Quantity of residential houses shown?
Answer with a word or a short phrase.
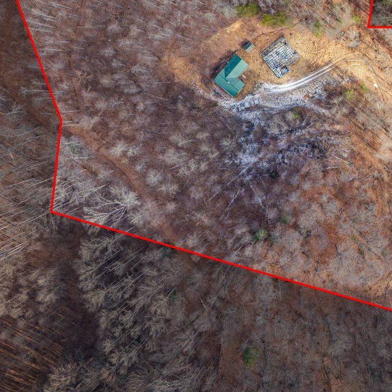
2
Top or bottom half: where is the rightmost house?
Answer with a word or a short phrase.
top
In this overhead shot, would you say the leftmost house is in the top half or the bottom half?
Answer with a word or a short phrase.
top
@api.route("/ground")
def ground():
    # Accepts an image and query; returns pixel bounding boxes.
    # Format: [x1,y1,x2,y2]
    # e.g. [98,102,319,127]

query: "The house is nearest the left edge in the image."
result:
[211,55,249,100]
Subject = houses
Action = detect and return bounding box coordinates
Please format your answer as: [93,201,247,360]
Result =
[261,35,301,78]
[211,55,249,100]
